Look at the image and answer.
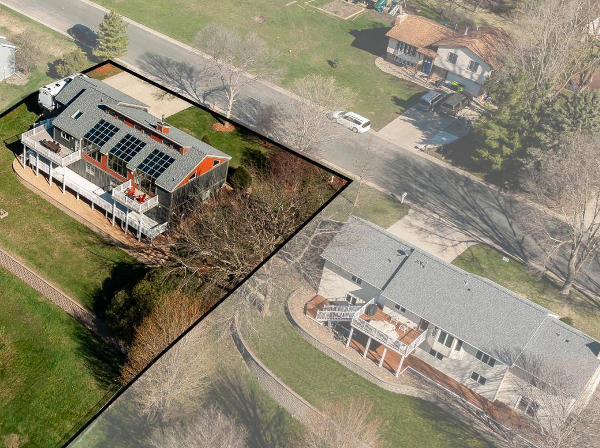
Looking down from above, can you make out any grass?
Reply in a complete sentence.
Yes, some grass is visible.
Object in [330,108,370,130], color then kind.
white vehicle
